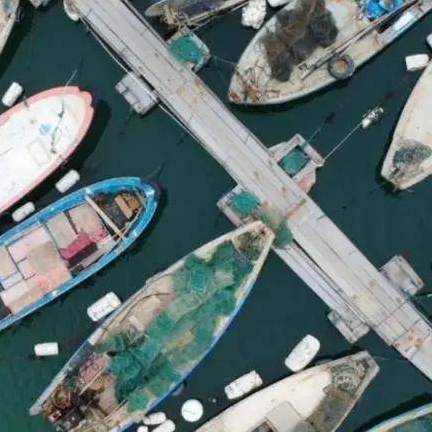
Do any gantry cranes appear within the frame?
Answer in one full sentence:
No, there appears to be no gantry crane in this shot.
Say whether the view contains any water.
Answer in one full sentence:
Yes, water can be seen from above here.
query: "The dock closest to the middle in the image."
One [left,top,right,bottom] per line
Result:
[216,187,271,228]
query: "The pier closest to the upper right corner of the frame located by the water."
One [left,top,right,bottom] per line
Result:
[266,133,323,185]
